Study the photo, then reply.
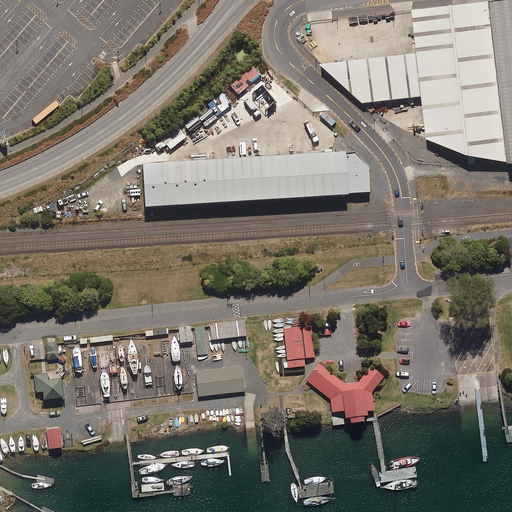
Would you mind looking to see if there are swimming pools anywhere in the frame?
No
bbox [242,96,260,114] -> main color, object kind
white vehicle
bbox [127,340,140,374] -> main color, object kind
white boat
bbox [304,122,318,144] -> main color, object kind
white vehicle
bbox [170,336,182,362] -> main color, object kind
white boat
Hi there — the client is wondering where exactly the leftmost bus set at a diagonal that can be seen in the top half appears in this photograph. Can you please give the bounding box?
[30,101,60,125]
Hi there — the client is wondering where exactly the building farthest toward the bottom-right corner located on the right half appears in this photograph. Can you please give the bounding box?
[307,364,384,426]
